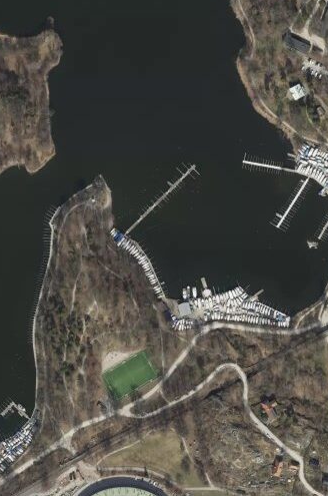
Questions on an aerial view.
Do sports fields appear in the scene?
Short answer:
Yes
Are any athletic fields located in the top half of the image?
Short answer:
No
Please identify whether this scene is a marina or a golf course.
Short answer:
marina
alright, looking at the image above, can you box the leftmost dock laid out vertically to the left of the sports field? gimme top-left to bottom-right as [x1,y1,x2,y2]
[30,208,61,414]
